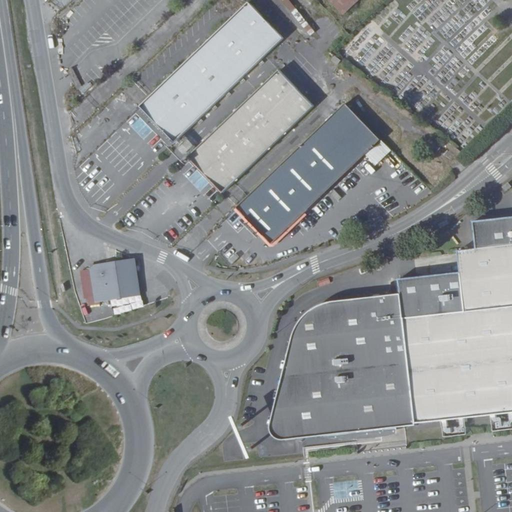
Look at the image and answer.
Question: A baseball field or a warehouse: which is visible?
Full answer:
This aerial view contains a warehouse.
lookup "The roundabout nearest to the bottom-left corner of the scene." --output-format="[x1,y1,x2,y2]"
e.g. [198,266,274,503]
[0,333,154,512]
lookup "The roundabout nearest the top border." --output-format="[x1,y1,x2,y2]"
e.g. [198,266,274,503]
[178,281,266,369]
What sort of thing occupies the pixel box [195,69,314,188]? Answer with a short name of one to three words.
warehouse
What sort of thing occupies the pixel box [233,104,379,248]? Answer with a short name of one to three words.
building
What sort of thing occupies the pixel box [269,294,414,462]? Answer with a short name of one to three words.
building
